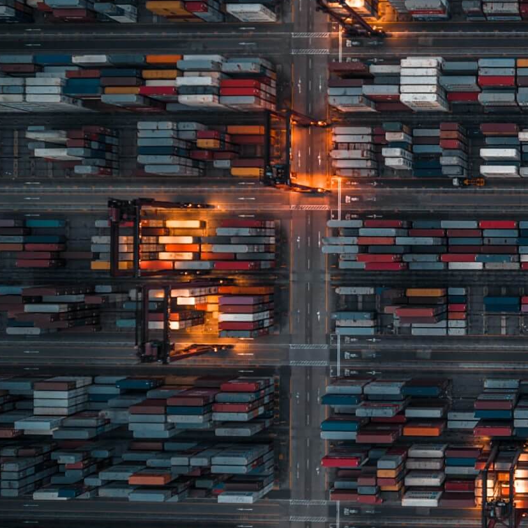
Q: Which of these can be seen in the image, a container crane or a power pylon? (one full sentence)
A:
There is a container crane in the scene.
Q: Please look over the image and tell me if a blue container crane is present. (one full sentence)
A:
No, there isn't any blue container crane down there.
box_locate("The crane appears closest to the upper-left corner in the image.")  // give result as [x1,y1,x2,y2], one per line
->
[110,194,212,281]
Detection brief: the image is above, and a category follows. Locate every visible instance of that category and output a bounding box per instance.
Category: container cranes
[481,439,528,528]
[261,102,336,192]
[110,194,212,281]
[317,0,384,32]
[140,277,233,365]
